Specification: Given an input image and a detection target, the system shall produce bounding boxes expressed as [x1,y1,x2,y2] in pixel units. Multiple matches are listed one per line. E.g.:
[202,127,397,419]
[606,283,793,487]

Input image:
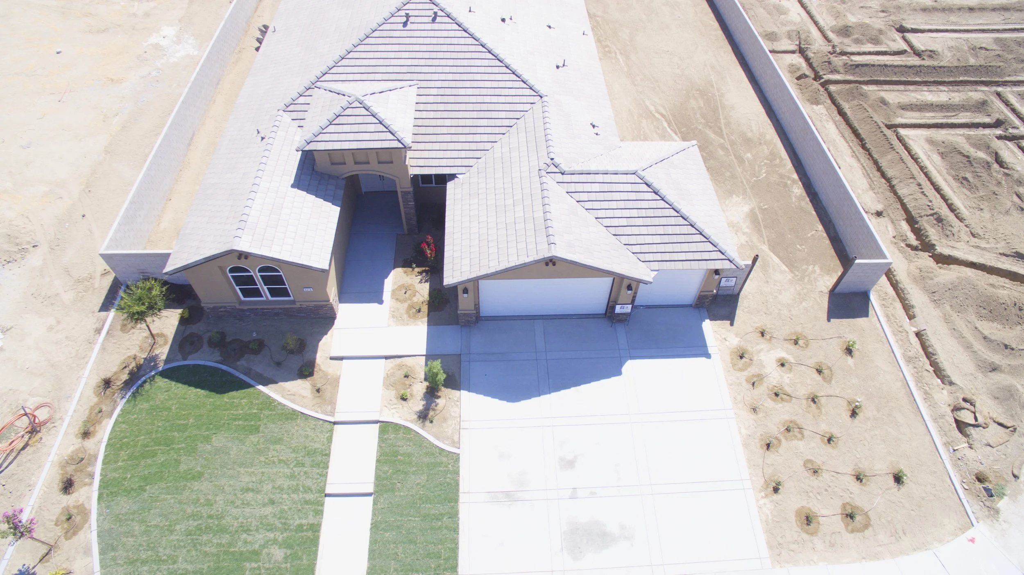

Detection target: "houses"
[163,0,747,327]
